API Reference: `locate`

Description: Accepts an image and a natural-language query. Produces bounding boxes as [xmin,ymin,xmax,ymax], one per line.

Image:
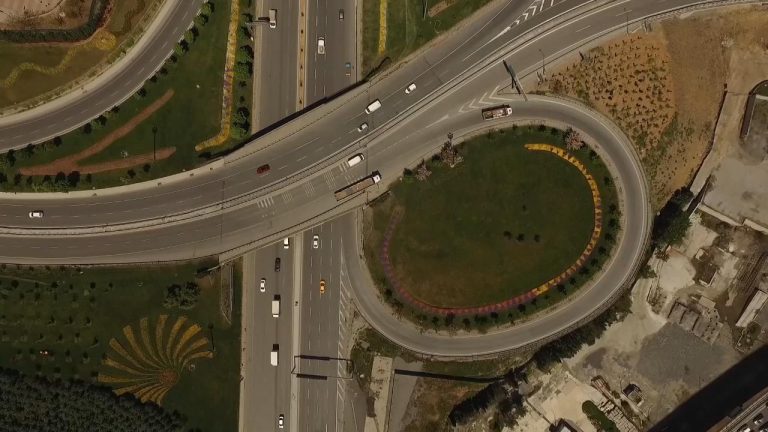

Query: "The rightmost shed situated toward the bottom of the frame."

[731,290,768,326]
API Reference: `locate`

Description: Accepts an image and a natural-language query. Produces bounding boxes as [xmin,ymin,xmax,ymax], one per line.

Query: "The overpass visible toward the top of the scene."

[221,80,373,262]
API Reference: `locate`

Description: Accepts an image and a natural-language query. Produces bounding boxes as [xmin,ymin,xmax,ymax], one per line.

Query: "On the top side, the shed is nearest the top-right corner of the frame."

[735,80,768,136]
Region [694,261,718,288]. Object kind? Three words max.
shed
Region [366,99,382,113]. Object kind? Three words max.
vehicle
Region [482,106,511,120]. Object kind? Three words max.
vehicle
